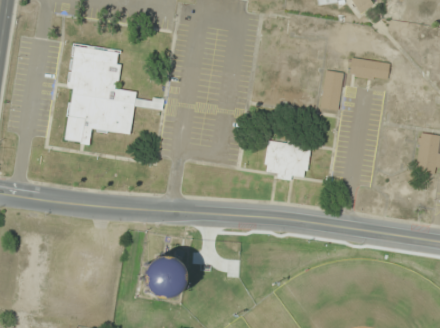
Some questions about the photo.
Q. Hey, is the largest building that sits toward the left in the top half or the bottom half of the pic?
top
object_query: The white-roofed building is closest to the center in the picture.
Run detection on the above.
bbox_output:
[266,142,312,181]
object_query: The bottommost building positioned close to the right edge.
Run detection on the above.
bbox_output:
[416,134,440,177]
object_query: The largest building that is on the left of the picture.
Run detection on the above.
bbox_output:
[64,44,165,146]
